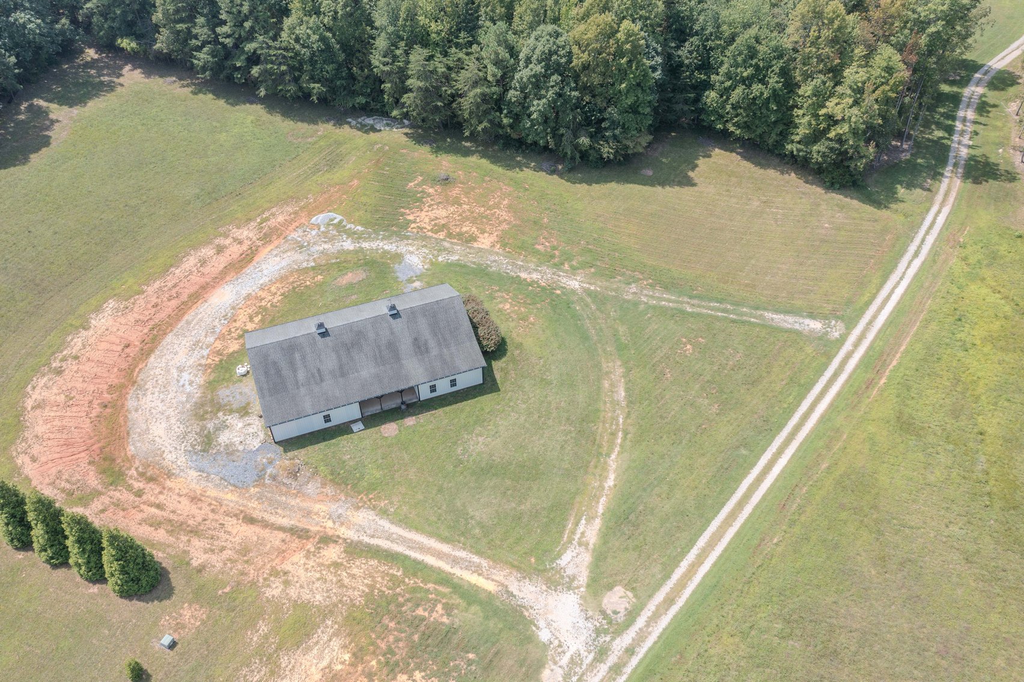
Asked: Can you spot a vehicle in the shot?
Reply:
No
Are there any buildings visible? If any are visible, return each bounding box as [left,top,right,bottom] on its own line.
[246,284,487,443]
